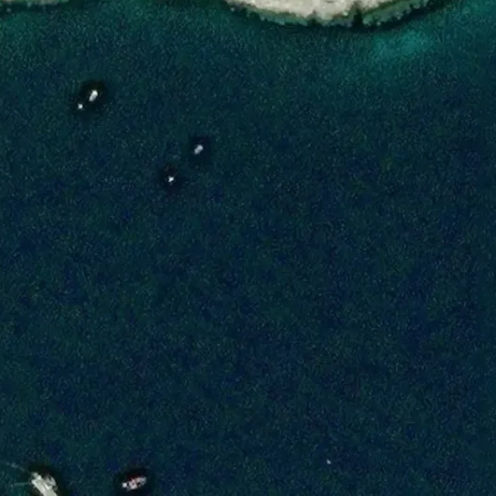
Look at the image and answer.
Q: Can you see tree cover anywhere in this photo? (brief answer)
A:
No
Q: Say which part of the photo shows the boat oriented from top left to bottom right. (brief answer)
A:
bottom left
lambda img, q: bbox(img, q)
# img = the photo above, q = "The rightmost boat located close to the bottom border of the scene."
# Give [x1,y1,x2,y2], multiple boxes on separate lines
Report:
[126,475,147,487]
